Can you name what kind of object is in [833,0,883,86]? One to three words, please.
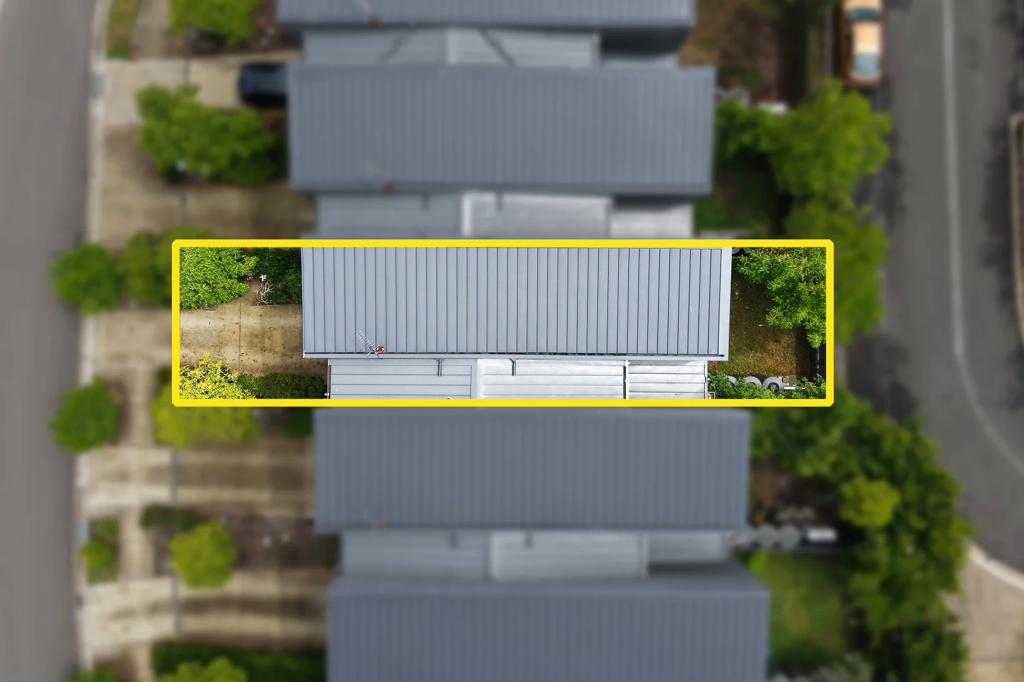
car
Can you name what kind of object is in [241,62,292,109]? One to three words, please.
car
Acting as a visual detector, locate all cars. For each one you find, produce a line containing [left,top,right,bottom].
[833,0,883,86]
[241,62,292,109]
